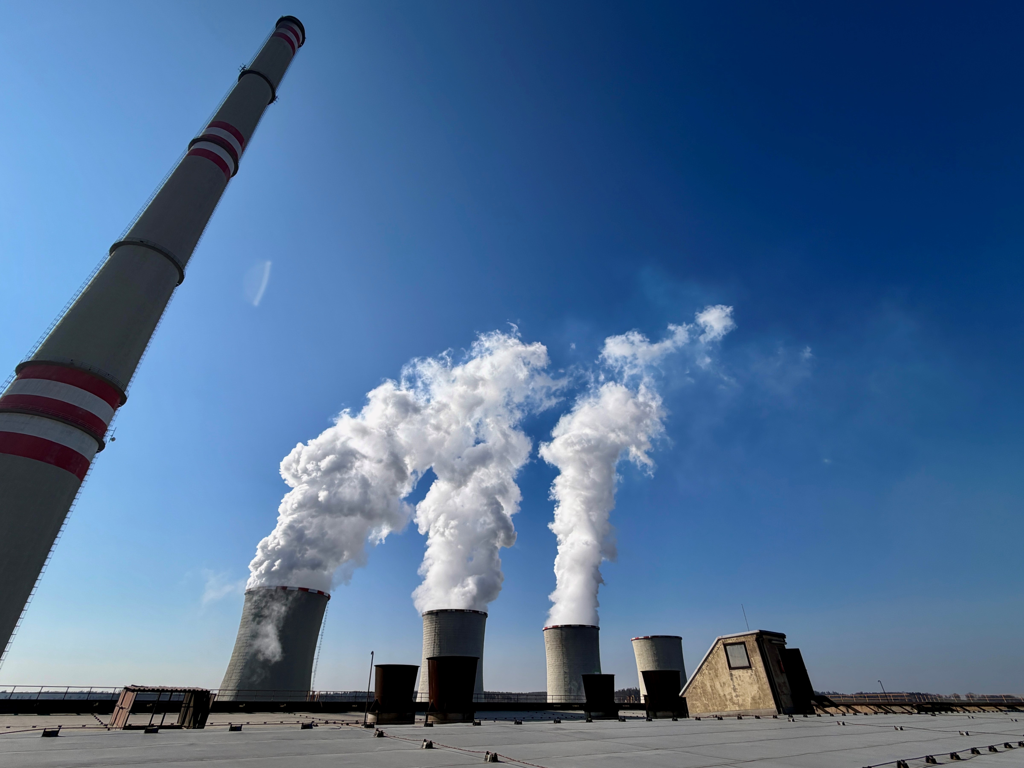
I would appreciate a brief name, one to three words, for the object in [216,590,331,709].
cooling tower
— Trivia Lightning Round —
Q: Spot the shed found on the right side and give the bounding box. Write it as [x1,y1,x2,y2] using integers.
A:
[677,610,824,719]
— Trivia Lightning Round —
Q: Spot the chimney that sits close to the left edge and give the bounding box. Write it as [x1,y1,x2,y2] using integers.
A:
[0,15,305,672]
